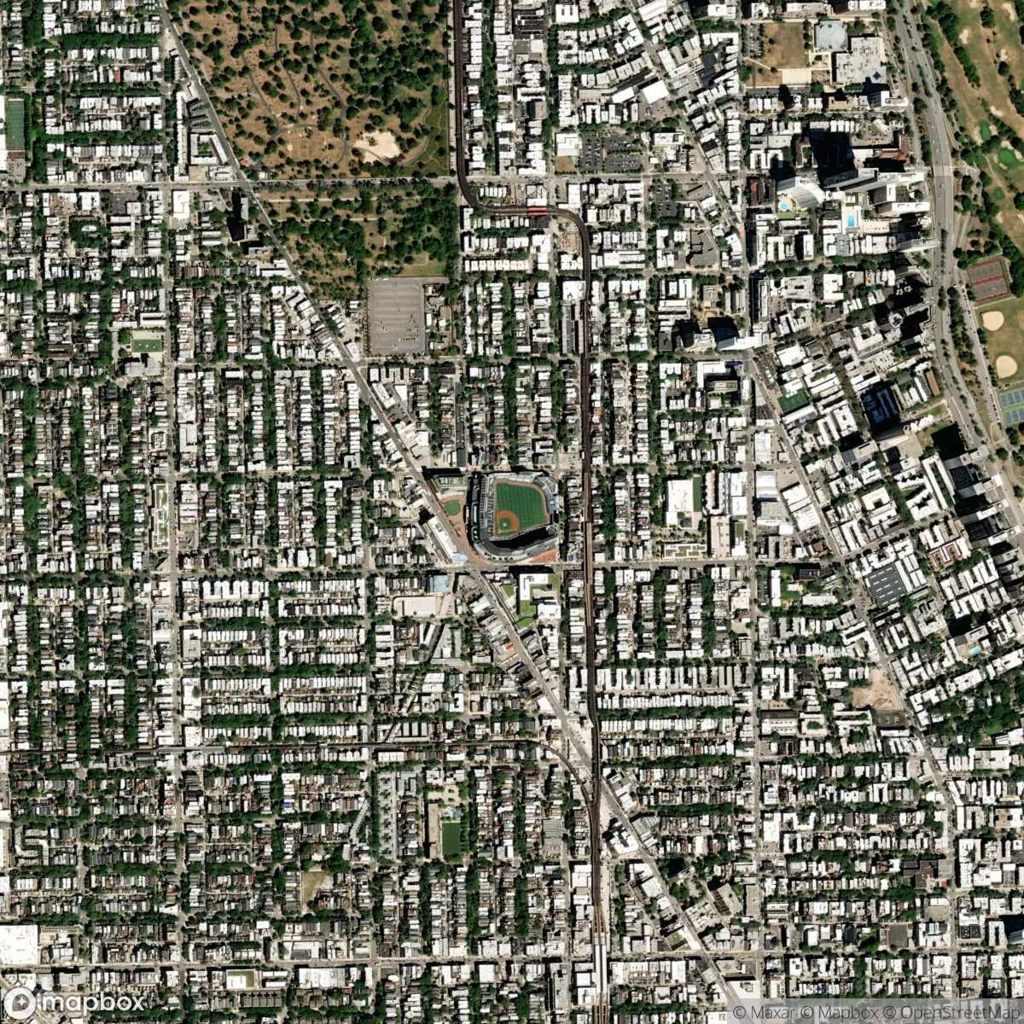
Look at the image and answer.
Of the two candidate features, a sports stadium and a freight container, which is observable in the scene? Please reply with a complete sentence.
It is a sports stadium that can be seen here.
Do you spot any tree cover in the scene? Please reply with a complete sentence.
Yes, there is tree cover in the image.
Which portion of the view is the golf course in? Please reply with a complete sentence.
The golf course sits in the top right section of the image.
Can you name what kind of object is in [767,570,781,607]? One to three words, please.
building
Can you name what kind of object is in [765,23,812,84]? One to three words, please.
sports field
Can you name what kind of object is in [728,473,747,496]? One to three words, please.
building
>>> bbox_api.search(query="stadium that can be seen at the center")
[468,473,559,564]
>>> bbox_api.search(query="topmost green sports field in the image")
[7,99,25,158]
